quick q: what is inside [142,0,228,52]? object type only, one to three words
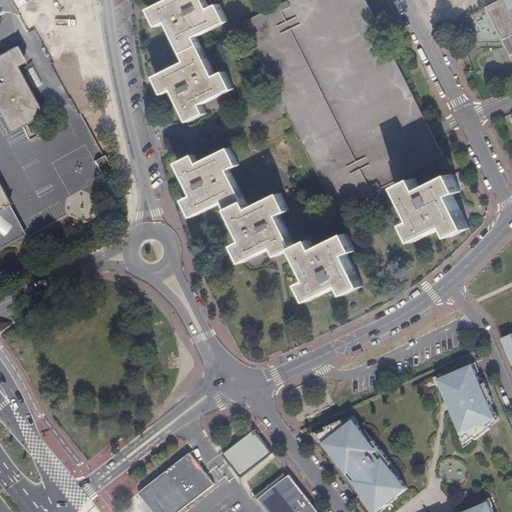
building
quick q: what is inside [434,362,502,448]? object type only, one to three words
house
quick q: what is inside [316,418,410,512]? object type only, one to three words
house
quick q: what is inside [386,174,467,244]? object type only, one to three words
building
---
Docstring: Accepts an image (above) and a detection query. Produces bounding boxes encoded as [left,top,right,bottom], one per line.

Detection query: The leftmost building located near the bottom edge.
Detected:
[138,452,215,512]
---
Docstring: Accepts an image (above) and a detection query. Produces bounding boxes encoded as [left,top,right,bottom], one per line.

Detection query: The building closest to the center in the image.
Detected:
[220,193,292,264]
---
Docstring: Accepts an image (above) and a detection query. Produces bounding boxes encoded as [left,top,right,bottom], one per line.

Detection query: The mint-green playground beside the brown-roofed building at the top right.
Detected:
[475,12,502,42]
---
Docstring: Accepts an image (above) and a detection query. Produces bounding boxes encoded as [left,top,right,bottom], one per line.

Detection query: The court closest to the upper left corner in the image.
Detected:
[52,146,97,194]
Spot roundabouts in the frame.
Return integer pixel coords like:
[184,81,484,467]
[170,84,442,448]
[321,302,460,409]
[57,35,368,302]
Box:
[122,222,180,280]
